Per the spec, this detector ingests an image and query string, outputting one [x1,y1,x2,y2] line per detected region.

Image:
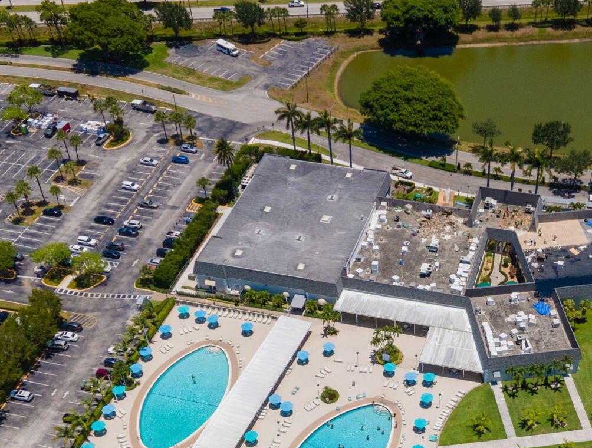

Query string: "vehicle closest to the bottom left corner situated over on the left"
[8,389,35,404]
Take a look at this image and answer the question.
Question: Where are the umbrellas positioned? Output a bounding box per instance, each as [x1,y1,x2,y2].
[130,365,143,380]
[177,307,189,319]
[241,324,254,337]
[243,433,257,447]
[112,387,125,401]
[138,349,151,362]
[296,351,310,364]
[281,402,294,416]
[101,407,116,420]
[269,396,282,410]
[420,395,433,408]
[322,344,335,357]
[159,327,172,340]
[193,311,206,324]
[413,420,427,434]
[403,374,417,386]
[206,317,219,329]
[383,364,396,377]
[422,374,435,388]
[91,423,106,437]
